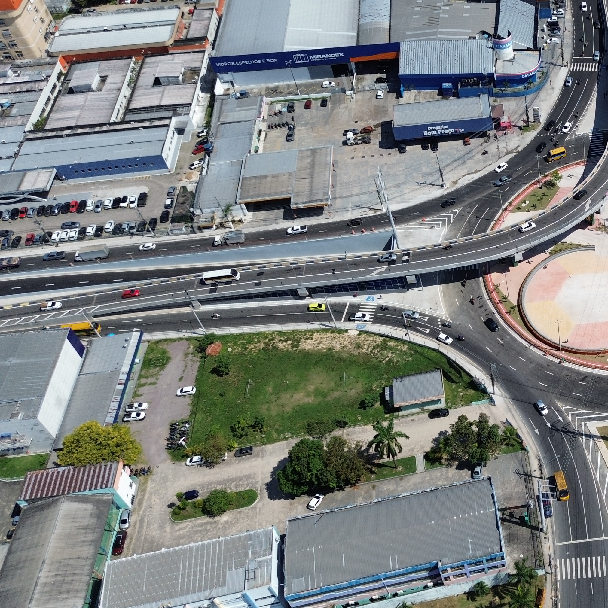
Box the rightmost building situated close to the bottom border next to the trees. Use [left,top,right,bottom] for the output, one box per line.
[284,477,508,608]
